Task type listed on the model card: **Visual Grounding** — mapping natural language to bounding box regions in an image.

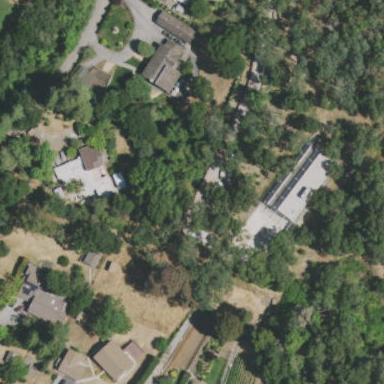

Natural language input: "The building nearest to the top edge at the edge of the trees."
[156,9,196,42]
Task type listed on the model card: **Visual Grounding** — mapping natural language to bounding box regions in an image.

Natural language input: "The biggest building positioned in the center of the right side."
[278,153,330,222]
